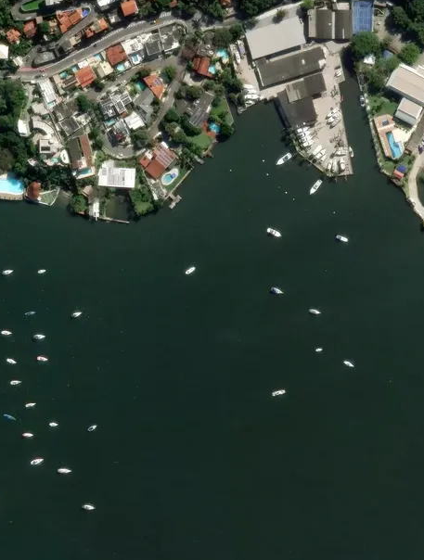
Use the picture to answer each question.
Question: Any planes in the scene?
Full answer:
No, there's no plane here.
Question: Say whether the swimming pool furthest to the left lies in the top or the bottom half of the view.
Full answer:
Seen from above, the swimming pool furthest to the left lies in the top half of the view.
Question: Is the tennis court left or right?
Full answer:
It is on the right.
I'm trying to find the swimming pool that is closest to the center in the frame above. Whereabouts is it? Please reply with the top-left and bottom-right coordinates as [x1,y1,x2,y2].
[163,169,177,186]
